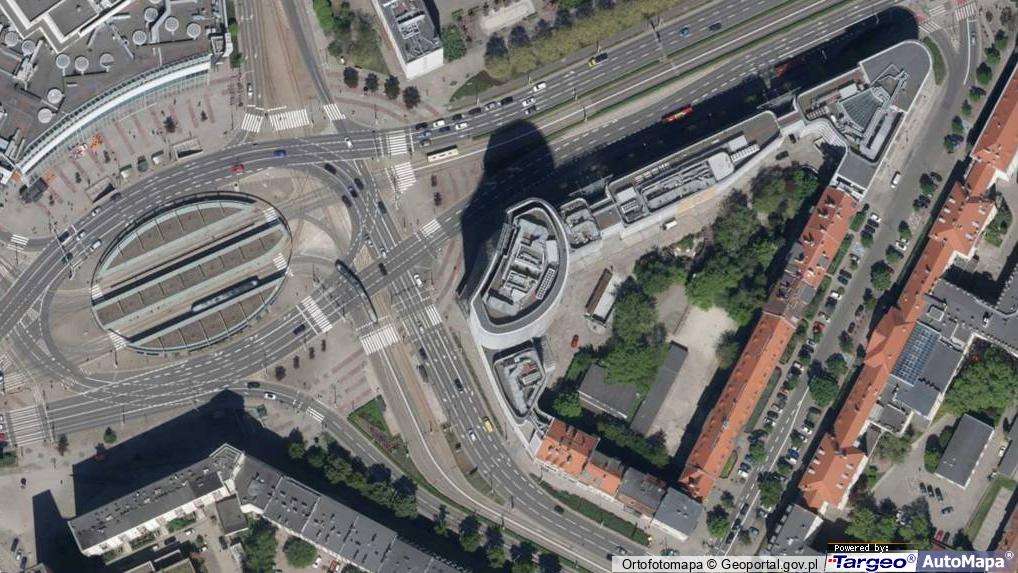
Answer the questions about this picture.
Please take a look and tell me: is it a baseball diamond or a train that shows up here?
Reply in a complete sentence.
Visible in the photo is a train.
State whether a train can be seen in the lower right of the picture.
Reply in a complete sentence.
No, there is no train in the lower right of the picture.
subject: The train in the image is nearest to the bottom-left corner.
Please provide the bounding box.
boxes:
[193,281,257,312]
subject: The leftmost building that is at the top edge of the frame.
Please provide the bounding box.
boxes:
[0,0,230,190]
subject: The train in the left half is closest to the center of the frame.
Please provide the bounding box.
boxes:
[340,266,377,319]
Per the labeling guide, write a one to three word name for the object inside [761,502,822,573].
house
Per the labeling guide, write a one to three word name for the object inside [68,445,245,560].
building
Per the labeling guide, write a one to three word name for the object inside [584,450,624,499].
house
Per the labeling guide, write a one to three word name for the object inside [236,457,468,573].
building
